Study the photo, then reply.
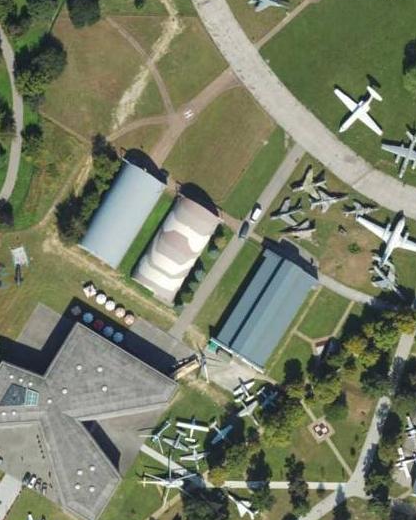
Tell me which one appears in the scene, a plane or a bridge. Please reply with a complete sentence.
The one in the frame is a plane.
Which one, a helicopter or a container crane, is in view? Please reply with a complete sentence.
Looking from above, you can make out a helicopter.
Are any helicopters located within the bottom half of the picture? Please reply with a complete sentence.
Yes, I can see a helicopter within the bottom half of the picture.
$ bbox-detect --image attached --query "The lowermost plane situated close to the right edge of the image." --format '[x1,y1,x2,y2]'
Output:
[396,447,416,478]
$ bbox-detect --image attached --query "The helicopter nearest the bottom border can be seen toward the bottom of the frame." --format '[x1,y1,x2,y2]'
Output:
[138,452,196,508]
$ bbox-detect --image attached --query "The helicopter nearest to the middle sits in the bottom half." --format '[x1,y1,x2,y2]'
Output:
[198,346,222,384]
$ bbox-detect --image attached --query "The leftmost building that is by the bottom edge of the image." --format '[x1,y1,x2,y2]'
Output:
[0,323,178,520]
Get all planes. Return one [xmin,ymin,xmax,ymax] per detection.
[407,415,416,444]
[176,419,209,441]
[293,170,327,200]
[183,445,210,471]
[257,387,282,412]
[238,394,263,427]
[271,199,306,227]
[311,192,349,215]
[165,431,190,449]
[352,216,416,273]
[231,378,255,403]
[396,447,416,478]
[380,133,416,177]
[257,0,289,12]
[282,220,317,241]
[370,264,401,295]
[344,202,379,222]
[331,82,384,136]
[210,422,231,441]
[228,494,257,520]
